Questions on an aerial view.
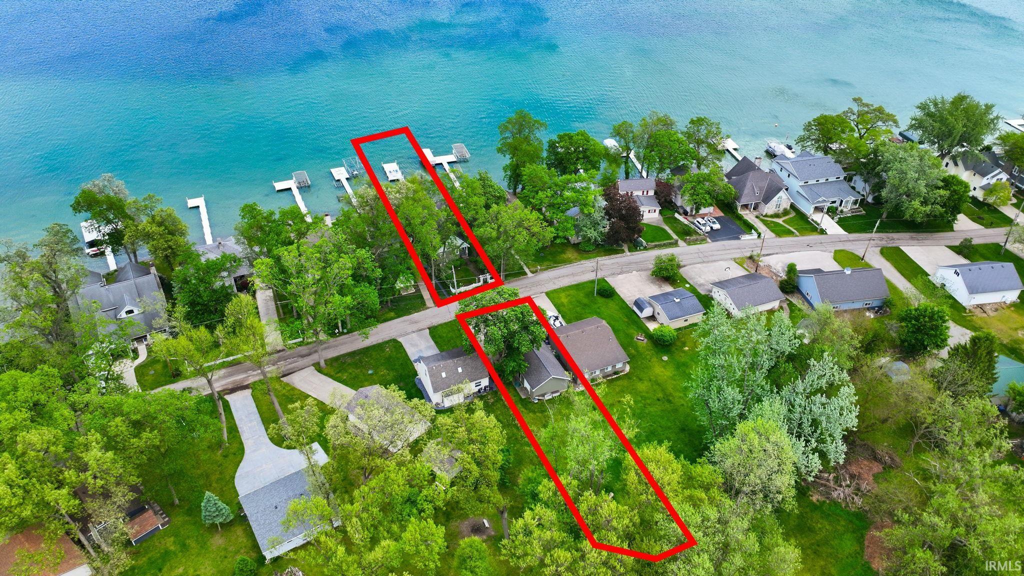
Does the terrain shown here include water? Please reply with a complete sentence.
Yes, water shows up in the scene.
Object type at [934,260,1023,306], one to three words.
barn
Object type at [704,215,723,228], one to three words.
vehicle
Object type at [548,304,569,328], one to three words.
boat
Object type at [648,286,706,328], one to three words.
building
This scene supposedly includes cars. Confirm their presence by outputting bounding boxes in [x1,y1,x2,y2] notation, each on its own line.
[694,218,712,231]
[704,215,723,228]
